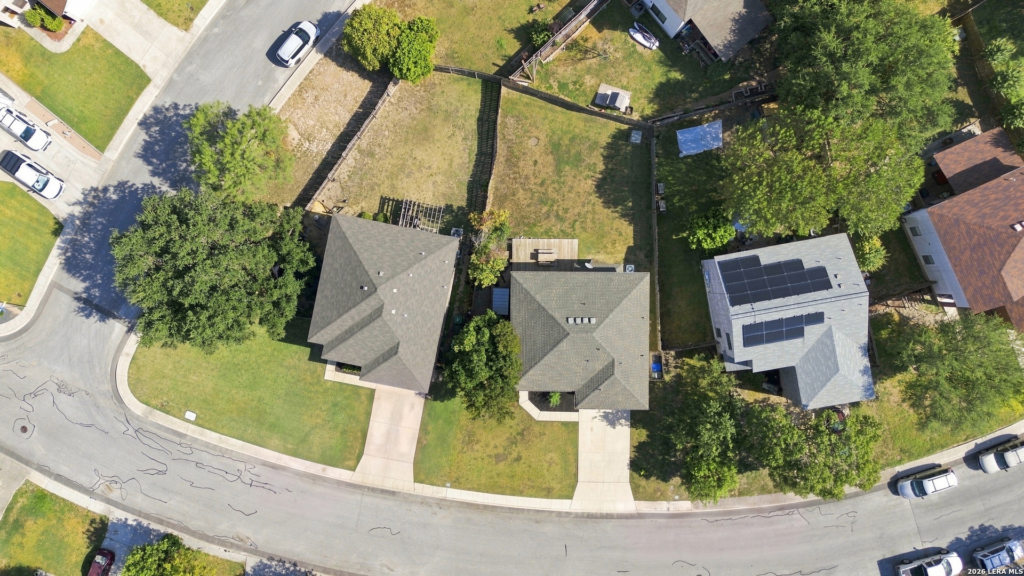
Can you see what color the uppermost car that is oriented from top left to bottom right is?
white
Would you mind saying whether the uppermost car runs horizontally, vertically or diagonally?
diagonally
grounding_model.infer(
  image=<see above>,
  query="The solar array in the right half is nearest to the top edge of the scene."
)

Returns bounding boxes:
[718,255,839,305]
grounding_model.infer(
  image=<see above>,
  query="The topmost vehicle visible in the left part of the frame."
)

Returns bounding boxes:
[273,19,318,67]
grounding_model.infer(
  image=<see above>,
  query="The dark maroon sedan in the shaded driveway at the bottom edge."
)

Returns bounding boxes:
[86,549,114,576]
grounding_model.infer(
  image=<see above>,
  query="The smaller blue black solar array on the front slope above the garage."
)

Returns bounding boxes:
[743,312,826,348]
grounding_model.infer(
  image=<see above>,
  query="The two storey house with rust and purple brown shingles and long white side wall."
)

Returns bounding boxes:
[906,127,1024,334]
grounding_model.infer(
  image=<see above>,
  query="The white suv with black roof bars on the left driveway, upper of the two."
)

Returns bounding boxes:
[0,106,52,153]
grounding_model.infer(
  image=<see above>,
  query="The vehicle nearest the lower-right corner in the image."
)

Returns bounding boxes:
[972,538,1024,574]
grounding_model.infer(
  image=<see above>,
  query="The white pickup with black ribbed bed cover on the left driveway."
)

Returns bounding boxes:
[0,147,60,200]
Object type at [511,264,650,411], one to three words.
house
